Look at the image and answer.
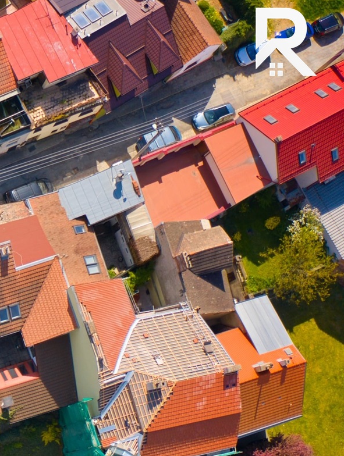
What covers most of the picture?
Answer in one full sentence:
The bulk of the photo consists of buildings.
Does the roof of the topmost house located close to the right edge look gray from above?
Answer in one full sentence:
No, the color of the roof of the topmost house located close to the right edge is red.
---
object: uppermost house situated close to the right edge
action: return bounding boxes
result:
[232,61,344,206]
